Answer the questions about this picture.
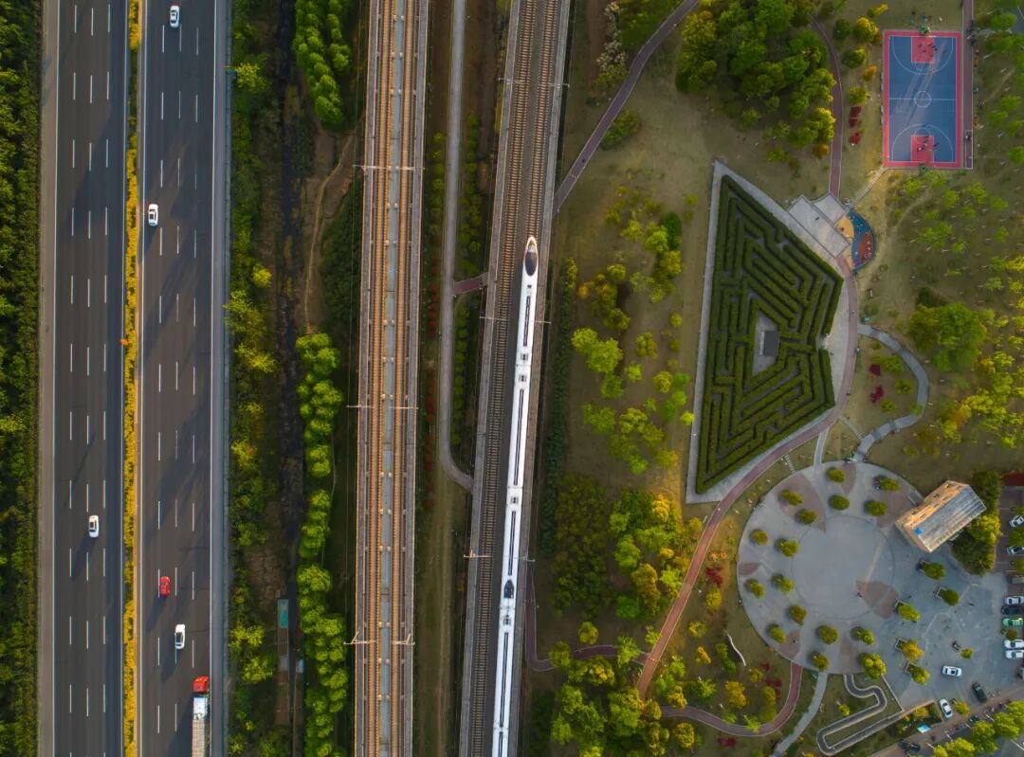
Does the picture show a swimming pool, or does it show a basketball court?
basketball court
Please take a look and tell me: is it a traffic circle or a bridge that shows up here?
bridge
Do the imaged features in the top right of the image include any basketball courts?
Yes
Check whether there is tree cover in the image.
Yes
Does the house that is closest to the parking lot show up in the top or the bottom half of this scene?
bottom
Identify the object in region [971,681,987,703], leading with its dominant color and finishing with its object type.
black car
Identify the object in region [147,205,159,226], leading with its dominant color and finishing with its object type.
white vehicle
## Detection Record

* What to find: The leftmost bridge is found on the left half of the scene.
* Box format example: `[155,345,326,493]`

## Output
[353,0,429,757]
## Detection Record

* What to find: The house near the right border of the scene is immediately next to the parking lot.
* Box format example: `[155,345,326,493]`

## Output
[896,481,990,555]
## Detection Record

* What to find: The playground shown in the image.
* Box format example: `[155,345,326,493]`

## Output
[835,210,878,272]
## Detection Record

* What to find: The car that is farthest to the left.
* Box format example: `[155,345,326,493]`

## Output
[88,515,100,537]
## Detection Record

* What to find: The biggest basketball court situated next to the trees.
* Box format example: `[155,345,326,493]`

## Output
[883,29,962,169]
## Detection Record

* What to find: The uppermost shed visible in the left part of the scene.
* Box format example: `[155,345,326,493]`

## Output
[278,597,290,628]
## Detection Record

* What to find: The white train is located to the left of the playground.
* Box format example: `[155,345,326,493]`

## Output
[492,236,537,757]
